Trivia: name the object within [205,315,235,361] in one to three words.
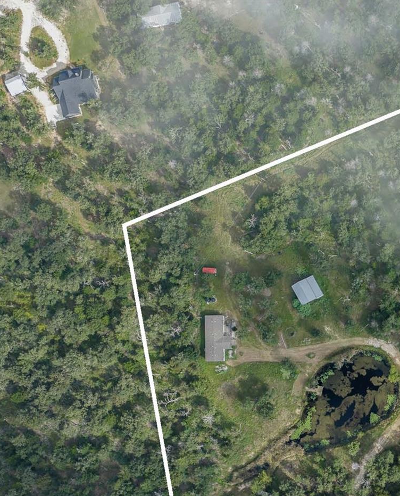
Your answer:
house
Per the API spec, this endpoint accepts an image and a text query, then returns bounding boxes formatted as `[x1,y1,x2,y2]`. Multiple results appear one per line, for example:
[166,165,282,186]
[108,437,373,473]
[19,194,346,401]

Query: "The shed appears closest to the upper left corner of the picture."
[5,76,30,98]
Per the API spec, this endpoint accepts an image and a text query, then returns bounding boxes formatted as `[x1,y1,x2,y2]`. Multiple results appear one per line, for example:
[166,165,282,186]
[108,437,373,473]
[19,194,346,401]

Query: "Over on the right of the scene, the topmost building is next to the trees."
[291,276,326,304]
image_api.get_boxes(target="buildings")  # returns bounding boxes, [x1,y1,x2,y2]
[52,67,101,119]
[205,315,235,361]
[5,76,30,98]
[139,2,183,30]
[291,276,326,304]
